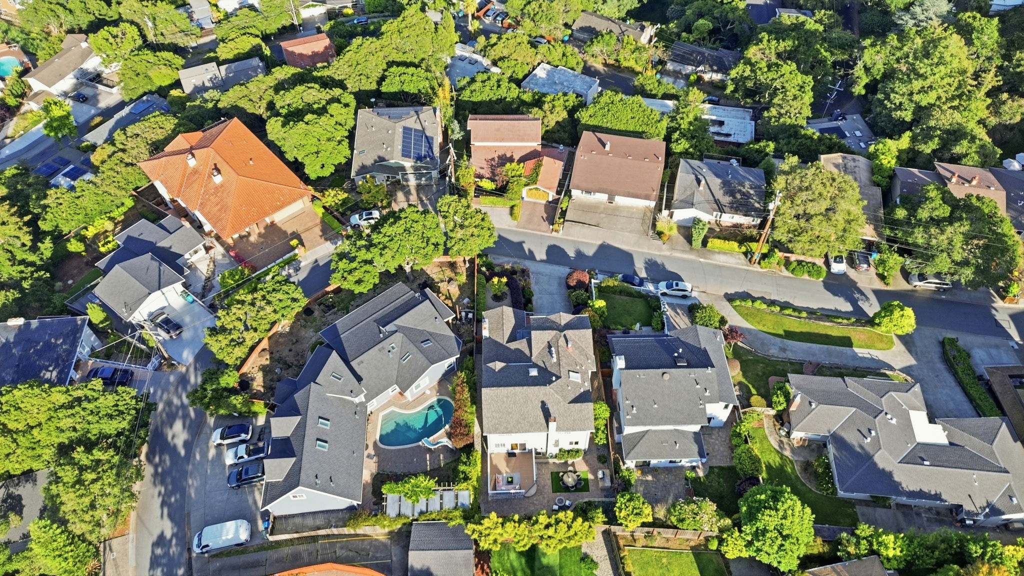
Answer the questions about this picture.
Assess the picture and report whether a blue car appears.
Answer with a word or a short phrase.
Yes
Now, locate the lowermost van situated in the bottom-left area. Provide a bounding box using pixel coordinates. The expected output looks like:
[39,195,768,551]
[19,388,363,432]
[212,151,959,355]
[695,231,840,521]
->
[190,511,255,554]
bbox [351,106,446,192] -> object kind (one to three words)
house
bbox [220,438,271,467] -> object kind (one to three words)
truck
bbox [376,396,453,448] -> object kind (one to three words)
swimming pool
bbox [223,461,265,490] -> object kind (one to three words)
car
